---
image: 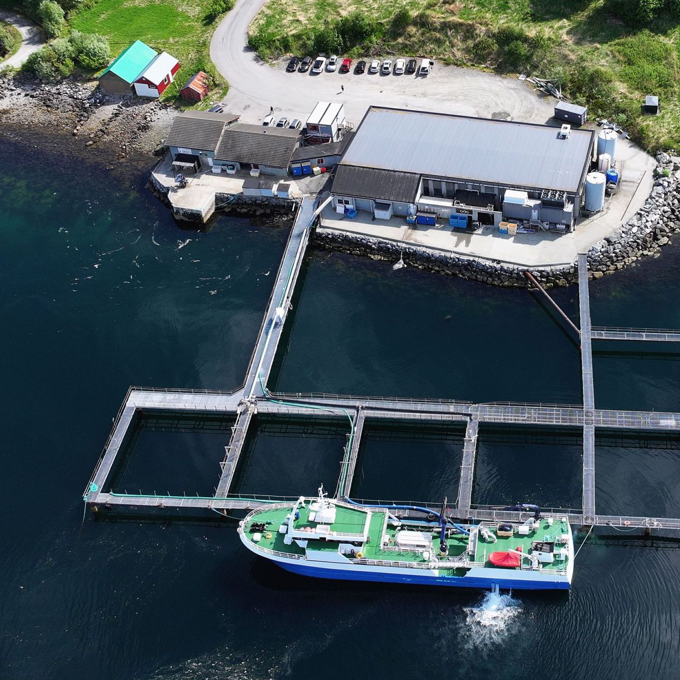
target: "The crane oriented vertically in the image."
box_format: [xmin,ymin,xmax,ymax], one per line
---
[436,497,449,562]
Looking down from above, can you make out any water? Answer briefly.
Yes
